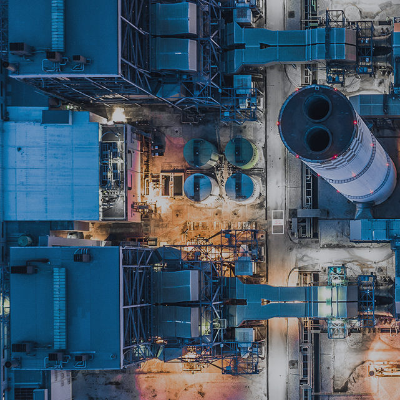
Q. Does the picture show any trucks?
No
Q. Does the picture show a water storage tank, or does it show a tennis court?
water storage tank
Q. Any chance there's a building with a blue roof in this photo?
Yes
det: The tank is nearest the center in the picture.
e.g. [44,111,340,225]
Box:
[184,171,219,204]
